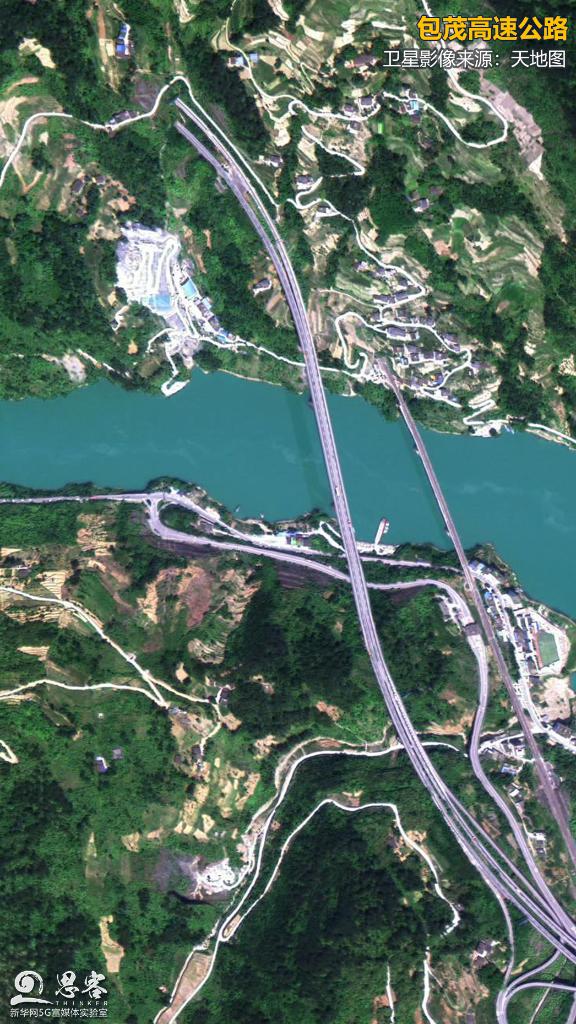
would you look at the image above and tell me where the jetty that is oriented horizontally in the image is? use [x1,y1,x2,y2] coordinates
[355,541,404,553]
